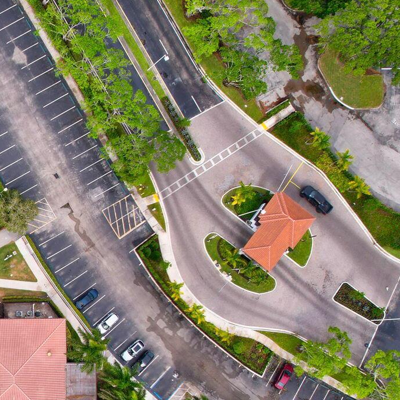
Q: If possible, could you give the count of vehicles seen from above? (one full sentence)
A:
The photo contains 6 vehicles.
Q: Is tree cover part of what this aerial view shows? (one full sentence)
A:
Yes, some tree cover is visible.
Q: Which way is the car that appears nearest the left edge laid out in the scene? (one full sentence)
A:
The car that appears nearest the left edge is oriented at an angle.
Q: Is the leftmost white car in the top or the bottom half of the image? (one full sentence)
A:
It is in the bottom half that the leftmost white car appears.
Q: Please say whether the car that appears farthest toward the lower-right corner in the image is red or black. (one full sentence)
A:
From above, the car that appears farthest toward the lower-right corner appears red.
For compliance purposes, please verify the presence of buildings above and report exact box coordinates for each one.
[0,318,97,400]
[236,191,316,273]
